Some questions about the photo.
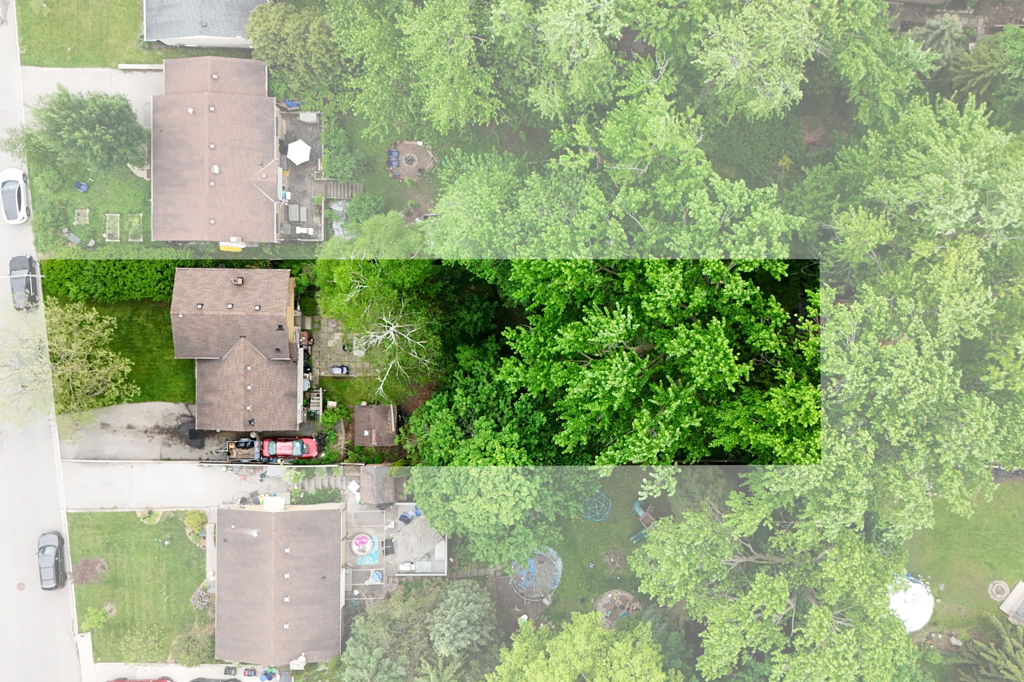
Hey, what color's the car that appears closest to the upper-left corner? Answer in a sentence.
The car that appears closest to the upper-left corner is white.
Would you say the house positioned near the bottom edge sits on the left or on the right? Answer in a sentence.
The house positioned near the bottom edge appears in the left half of the scene.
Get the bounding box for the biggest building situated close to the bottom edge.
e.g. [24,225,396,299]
[215,497,353,670]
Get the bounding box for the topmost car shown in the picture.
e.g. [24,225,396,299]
[0,167,33,225]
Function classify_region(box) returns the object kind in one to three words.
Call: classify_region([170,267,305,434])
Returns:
house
